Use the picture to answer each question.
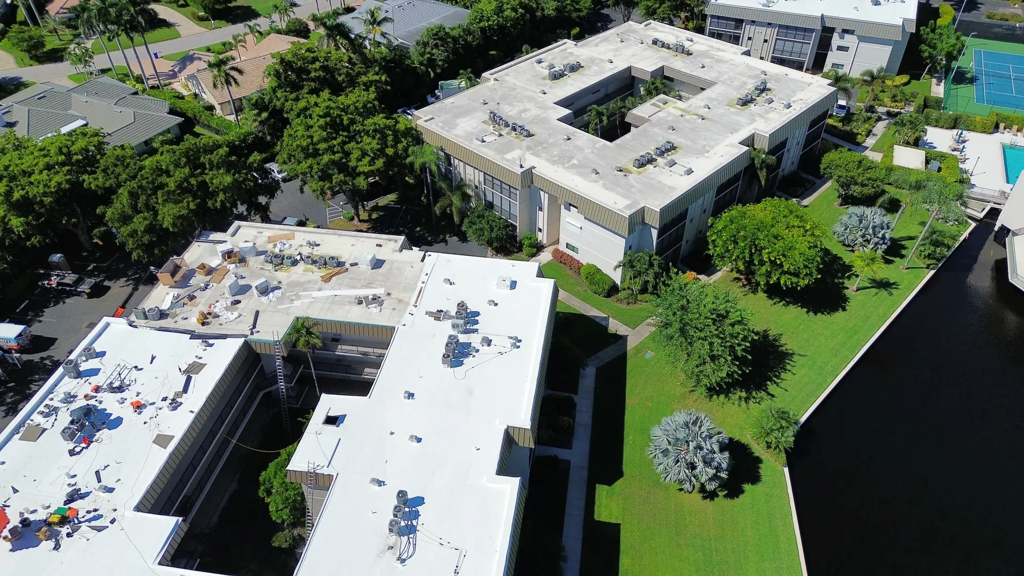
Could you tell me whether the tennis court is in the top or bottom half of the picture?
top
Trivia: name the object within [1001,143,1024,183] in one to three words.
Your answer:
swimming pool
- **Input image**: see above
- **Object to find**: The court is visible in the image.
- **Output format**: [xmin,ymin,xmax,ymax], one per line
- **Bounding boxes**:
[945,38,1024,119]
